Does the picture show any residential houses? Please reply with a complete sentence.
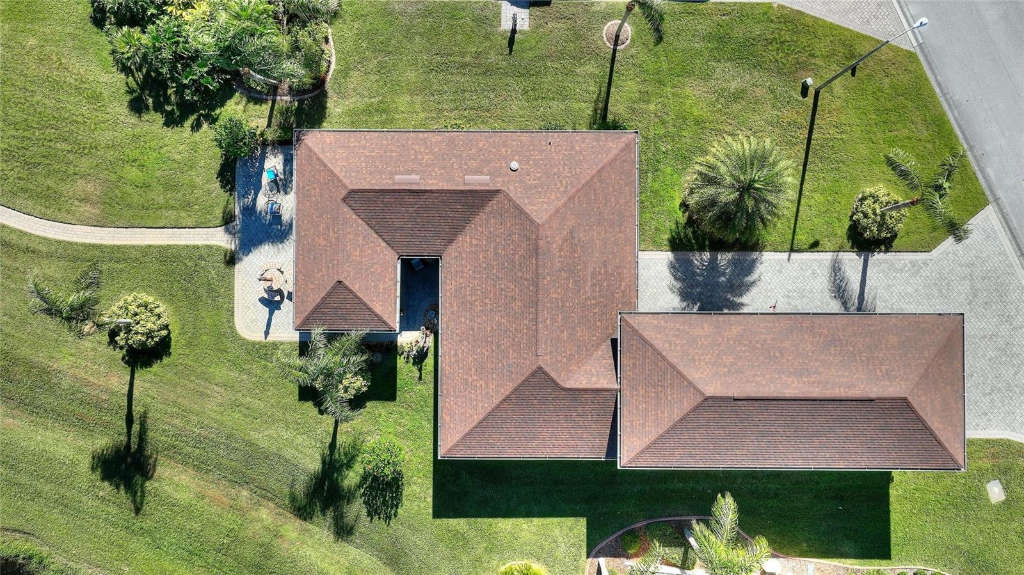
Yes, I can see a residential house in this picture.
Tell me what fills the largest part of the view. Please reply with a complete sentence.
What you mostly see from above here is grass.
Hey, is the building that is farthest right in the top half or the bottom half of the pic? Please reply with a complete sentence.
It is in the bottom half that the building that is farthest right appears.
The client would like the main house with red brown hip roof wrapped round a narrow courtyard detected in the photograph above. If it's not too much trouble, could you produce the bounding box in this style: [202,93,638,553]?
[293,129,638,460]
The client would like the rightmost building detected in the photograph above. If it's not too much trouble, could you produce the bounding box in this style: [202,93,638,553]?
[617,311,967,472]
